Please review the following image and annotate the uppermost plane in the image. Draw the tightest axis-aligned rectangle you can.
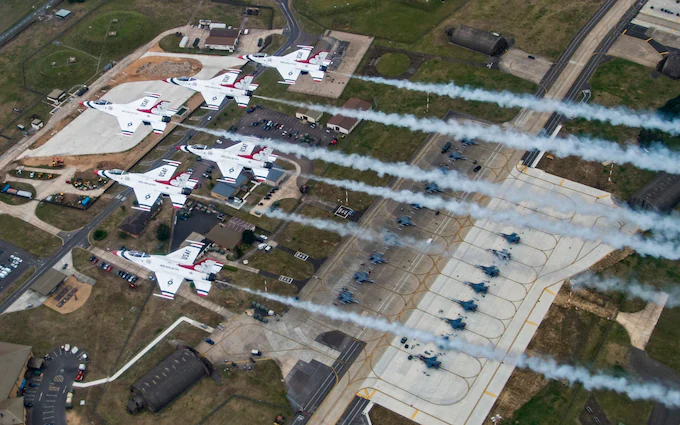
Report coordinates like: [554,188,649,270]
[239,45,332,86]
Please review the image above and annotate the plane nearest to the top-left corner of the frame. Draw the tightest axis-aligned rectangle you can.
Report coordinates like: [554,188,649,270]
[80,92,178,137]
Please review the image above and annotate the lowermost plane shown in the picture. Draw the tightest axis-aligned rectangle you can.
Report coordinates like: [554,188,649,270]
[417,353,445,369]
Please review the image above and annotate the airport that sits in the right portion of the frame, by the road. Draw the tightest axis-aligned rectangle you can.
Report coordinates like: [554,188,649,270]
[196,0,680,425]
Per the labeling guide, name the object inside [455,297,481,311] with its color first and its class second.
blue airplane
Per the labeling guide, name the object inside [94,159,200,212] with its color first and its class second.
white airplane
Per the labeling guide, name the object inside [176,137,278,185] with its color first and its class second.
white airplane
